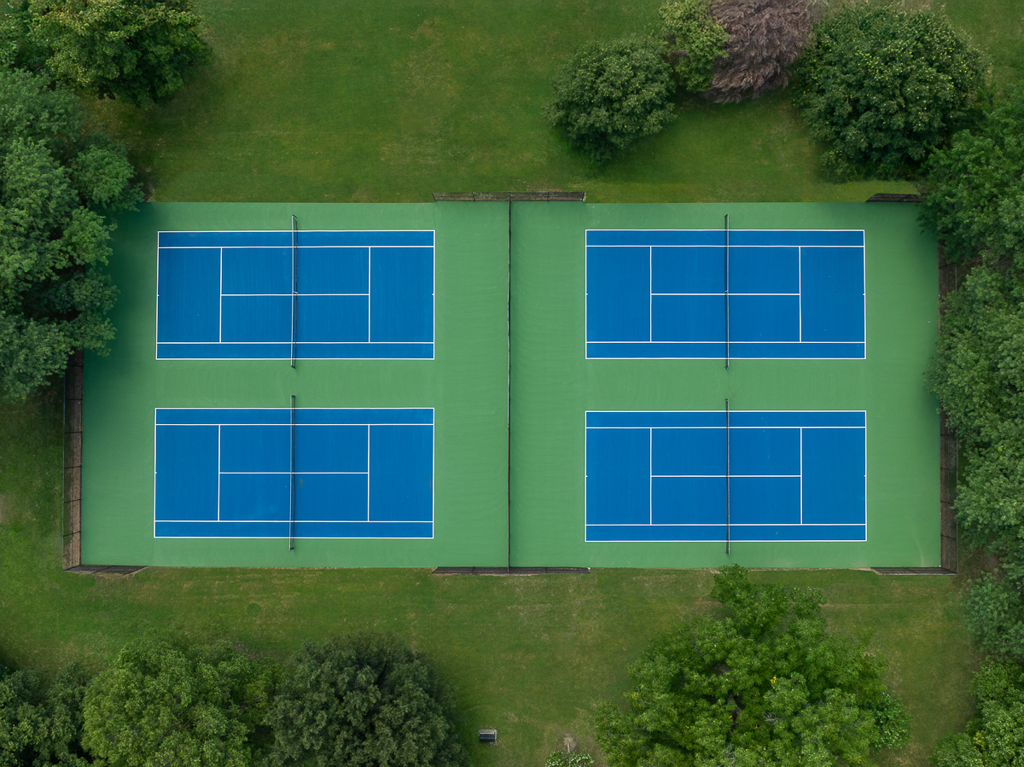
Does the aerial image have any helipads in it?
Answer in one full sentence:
No, the scene contains no helipad.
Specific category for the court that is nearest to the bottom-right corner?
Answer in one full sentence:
I'd identify the court that is nearest to the bottom-right corner as a tennis court.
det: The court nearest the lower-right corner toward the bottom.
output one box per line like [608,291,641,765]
[586,411,867,541]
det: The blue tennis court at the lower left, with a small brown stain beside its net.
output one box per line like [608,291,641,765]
[155,408,433,538]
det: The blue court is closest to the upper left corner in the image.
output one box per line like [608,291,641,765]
[157,231,434,359]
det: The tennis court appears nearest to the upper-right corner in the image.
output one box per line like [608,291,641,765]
[586,230,865,358]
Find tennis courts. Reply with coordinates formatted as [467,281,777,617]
[586,411,867,541]
[586,230,865,358]
[155,408,433,538]
[157,231,434,359]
